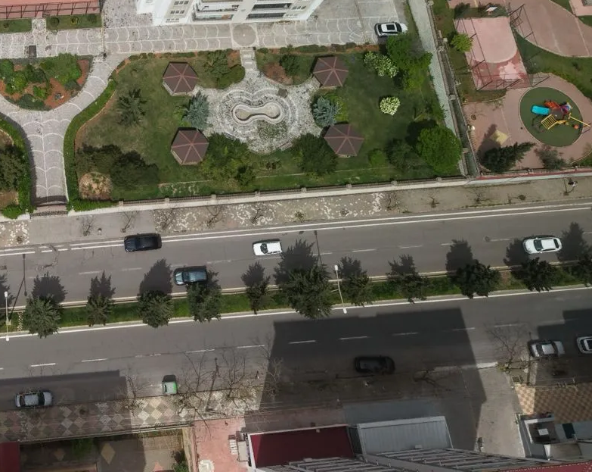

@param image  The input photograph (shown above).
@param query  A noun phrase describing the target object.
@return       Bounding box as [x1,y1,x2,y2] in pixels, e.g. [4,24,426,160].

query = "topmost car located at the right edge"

[525,238,562,254]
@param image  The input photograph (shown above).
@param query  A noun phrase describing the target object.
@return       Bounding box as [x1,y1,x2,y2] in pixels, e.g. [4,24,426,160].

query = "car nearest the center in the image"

[252,239,285,256]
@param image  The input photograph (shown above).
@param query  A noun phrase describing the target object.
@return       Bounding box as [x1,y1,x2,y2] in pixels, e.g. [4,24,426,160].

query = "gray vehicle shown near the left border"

[14,389,53,409]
